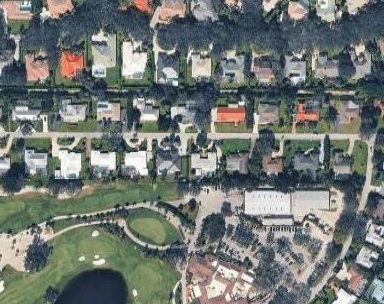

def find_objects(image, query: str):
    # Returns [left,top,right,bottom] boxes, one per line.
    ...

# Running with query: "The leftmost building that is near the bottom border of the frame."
[185,251,263,304]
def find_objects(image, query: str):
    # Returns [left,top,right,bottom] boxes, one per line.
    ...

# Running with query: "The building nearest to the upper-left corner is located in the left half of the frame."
[0,0,35,18]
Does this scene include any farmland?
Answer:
No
